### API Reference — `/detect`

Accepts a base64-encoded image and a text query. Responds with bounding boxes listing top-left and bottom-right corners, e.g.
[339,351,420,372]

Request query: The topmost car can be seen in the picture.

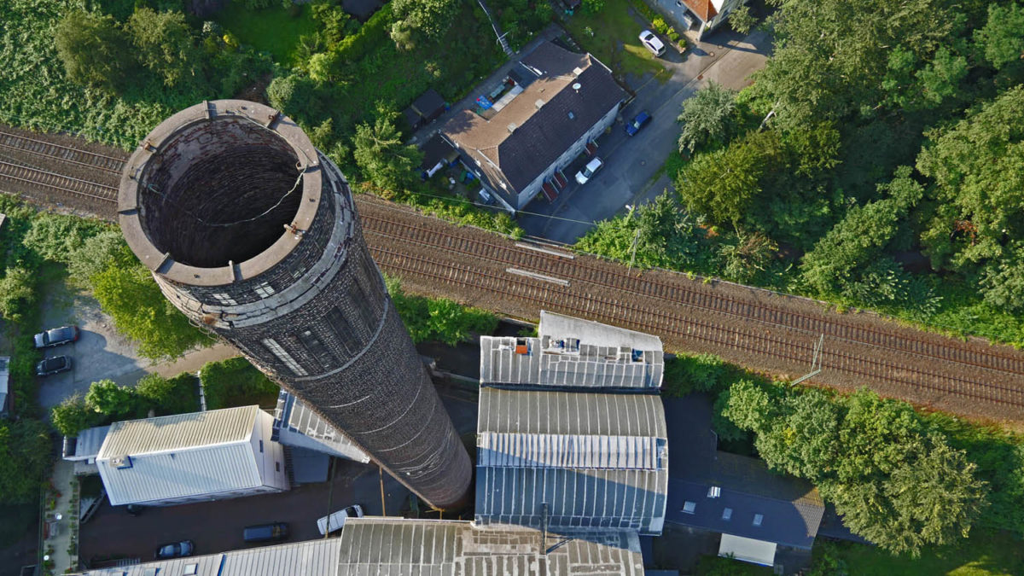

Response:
[640,26,671,57]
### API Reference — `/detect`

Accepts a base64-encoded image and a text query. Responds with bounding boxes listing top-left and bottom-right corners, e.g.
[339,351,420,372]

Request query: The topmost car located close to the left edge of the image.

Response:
[33,321,78,349]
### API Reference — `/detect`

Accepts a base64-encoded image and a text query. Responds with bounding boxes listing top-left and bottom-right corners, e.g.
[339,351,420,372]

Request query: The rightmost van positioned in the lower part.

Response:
[311,500,366,536]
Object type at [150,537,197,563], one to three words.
car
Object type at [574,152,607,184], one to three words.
car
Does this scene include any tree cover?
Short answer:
Yes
